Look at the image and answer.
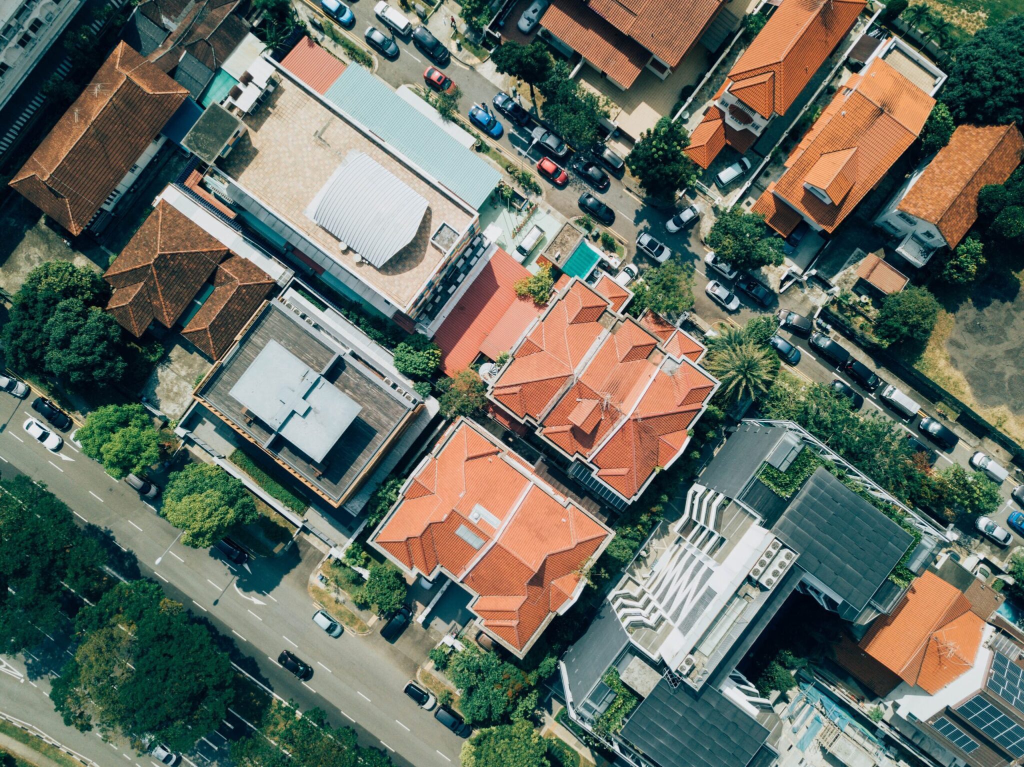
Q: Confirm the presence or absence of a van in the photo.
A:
Yes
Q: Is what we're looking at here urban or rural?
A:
urban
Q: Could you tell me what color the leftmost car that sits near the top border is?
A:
blue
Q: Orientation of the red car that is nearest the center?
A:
on a diagonal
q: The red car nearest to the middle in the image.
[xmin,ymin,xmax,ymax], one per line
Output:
[533,153,572,188]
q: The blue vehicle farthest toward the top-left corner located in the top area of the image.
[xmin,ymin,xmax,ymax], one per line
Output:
[318,0,358,28]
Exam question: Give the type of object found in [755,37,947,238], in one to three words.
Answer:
house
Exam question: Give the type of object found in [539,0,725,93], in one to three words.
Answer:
house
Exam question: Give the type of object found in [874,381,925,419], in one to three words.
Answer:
van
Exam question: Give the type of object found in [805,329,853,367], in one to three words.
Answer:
car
